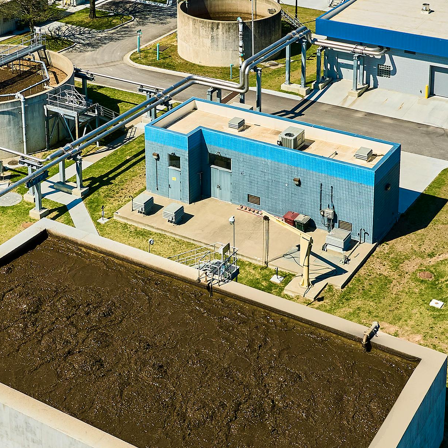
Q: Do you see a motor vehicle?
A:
No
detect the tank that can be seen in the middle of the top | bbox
[175,0,325,70]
